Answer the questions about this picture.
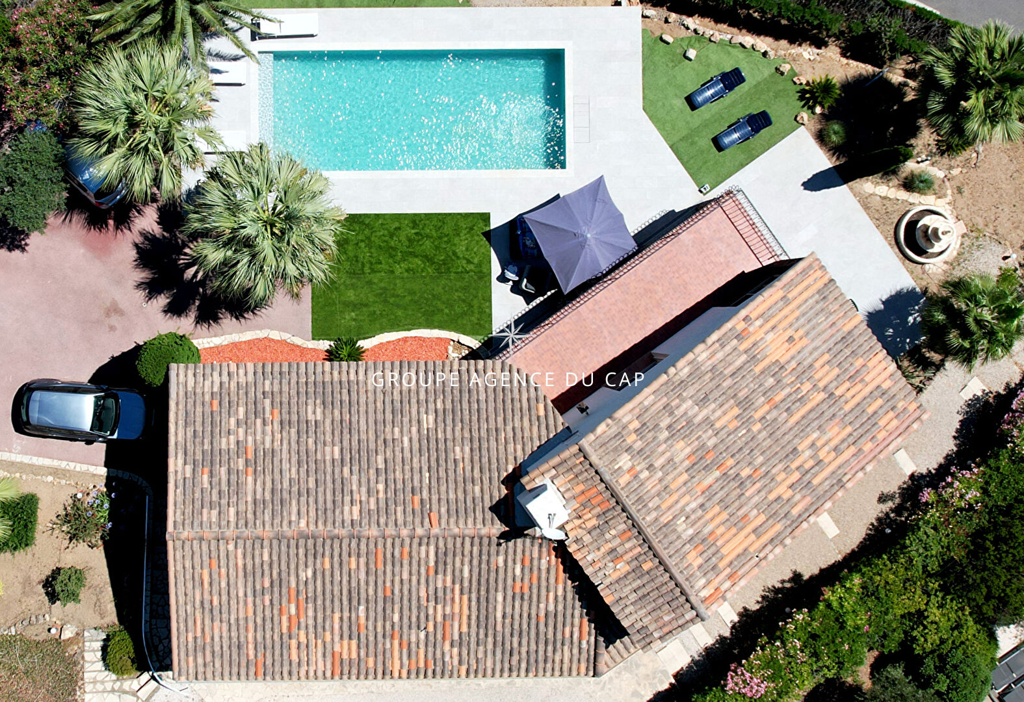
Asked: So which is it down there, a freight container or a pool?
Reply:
pool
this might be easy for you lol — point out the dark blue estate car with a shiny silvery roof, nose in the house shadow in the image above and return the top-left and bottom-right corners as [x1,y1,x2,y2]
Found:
[14,378,155,447]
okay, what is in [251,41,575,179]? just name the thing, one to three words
swimming pool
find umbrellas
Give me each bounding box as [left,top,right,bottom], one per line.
[523,176,636,294]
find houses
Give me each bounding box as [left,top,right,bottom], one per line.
[163,252,932,685]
